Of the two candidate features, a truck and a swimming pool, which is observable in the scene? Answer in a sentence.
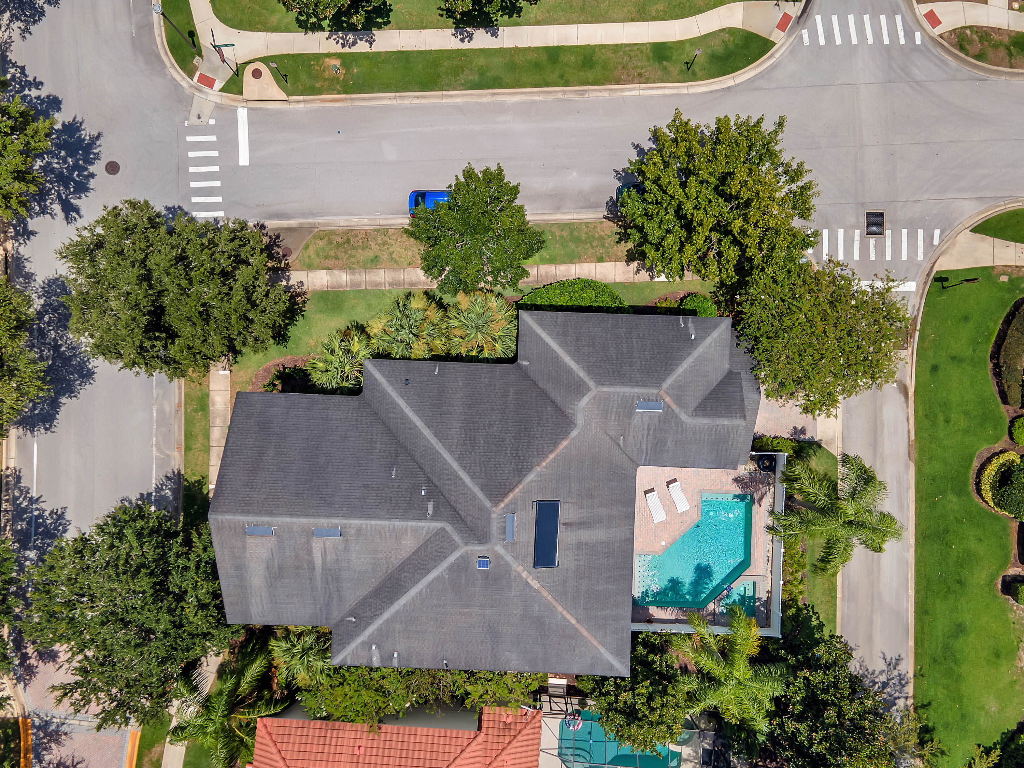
The image shows a swimming pool.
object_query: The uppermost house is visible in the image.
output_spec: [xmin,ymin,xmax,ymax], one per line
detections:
[207,308,763,676]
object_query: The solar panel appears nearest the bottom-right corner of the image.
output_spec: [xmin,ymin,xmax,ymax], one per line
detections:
[636,398,666,414]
